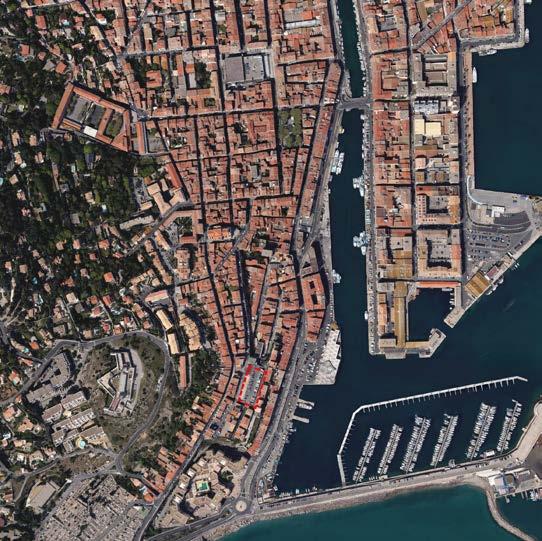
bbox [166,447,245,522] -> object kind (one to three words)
house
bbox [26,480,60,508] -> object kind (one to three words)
building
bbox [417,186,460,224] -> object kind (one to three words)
building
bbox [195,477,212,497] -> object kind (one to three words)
swimming pool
